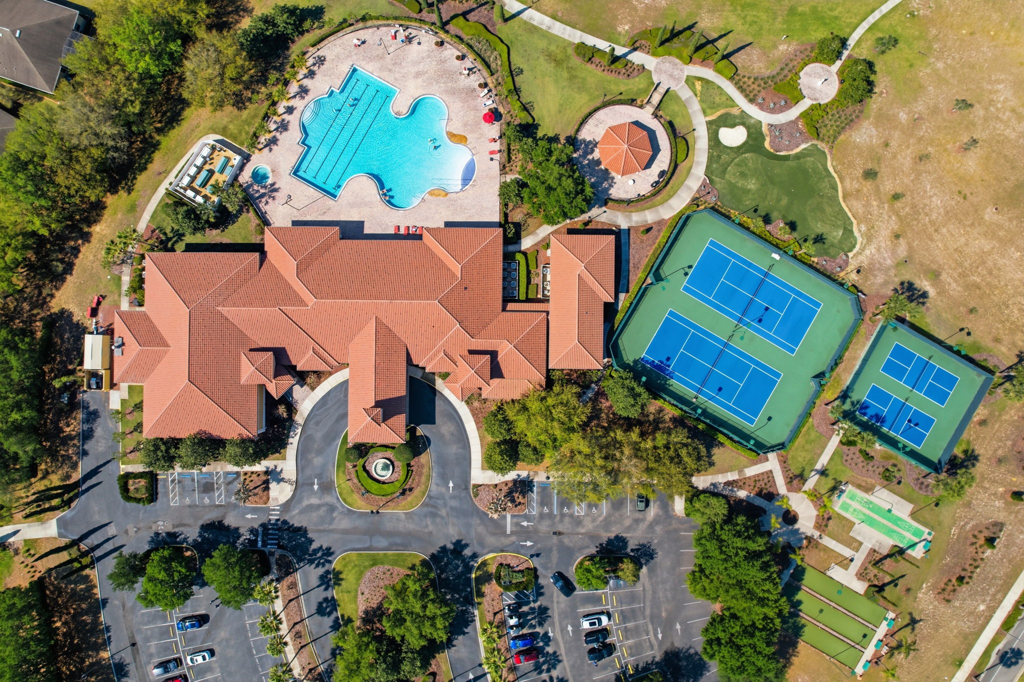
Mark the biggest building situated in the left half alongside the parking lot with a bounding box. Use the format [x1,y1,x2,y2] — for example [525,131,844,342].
[112,226,549,444]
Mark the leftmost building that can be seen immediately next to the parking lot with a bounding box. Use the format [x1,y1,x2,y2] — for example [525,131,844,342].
[85,335,111,393]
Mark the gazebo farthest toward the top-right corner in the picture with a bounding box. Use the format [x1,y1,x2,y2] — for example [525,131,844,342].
[597,121,653,179]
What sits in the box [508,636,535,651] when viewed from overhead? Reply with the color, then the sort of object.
blue car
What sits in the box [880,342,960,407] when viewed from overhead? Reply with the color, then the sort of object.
blue sports court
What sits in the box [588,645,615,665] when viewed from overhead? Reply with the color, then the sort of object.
black car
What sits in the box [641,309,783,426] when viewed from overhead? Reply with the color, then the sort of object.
blue tennis court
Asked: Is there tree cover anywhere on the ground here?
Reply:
Yes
